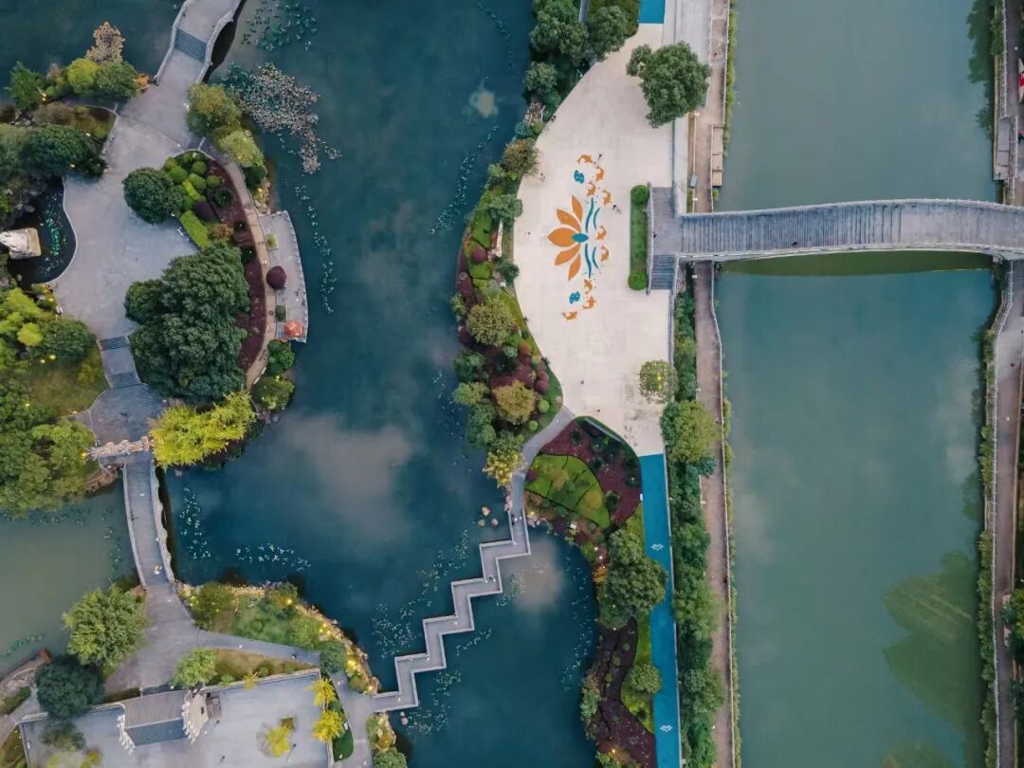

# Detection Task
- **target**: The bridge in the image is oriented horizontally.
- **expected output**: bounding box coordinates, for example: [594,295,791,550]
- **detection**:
[680,202,1024,260]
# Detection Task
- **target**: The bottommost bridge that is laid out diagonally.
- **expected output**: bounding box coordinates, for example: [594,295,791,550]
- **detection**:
[373,508,532,716]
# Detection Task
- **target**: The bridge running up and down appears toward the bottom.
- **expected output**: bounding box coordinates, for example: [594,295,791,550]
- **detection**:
[119,461,178,589]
